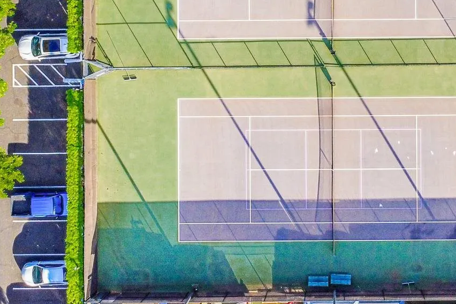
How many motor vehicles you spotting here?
3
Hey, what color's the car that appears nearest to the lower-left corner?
blue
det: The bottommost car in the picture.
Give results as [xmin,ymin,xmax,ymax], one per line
[25,259,70,288]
